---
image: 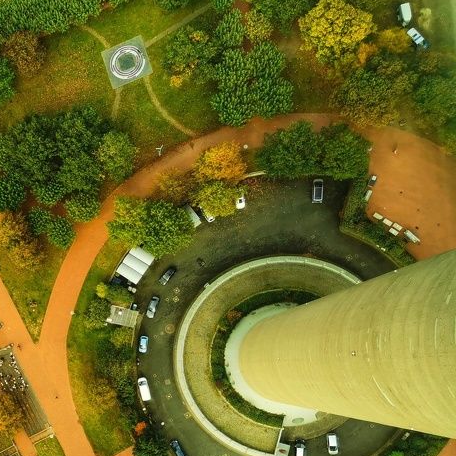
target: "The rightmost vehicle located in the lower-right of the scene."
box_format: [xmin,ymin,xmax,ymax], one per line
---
[325,434,339,455]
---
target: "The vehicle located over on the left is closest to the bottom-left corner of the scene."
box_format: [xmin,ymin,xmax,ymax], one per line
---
[138,378,151,400]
